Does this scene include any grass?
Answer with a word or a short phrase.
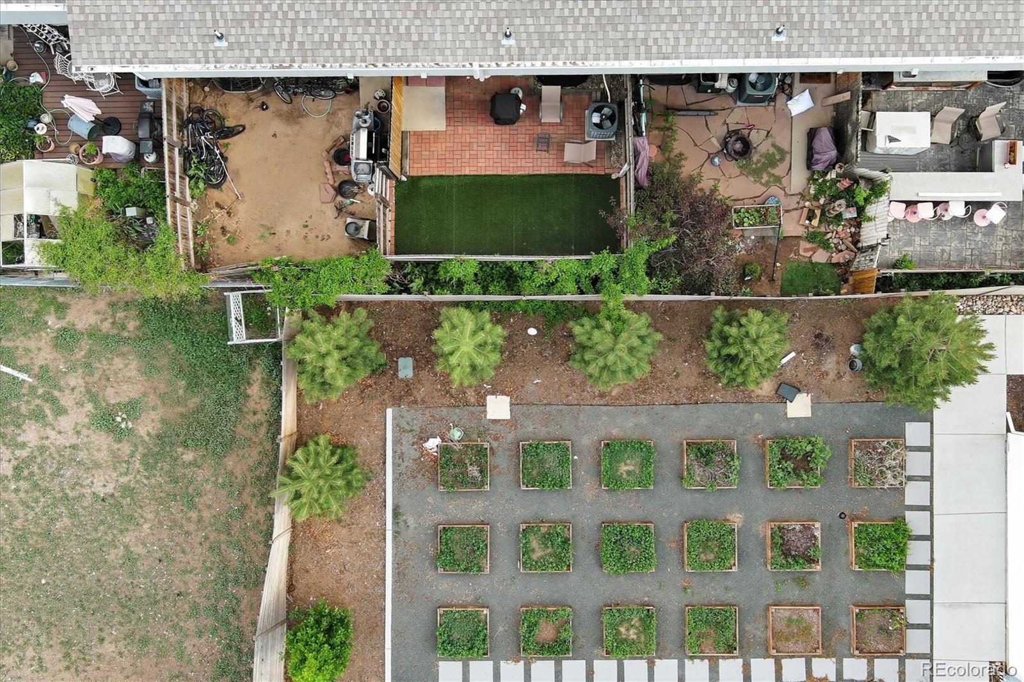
Yes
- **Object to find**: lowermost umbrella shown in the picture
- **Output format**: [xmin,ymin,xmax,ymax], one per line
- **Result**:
[58,94,120,134]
